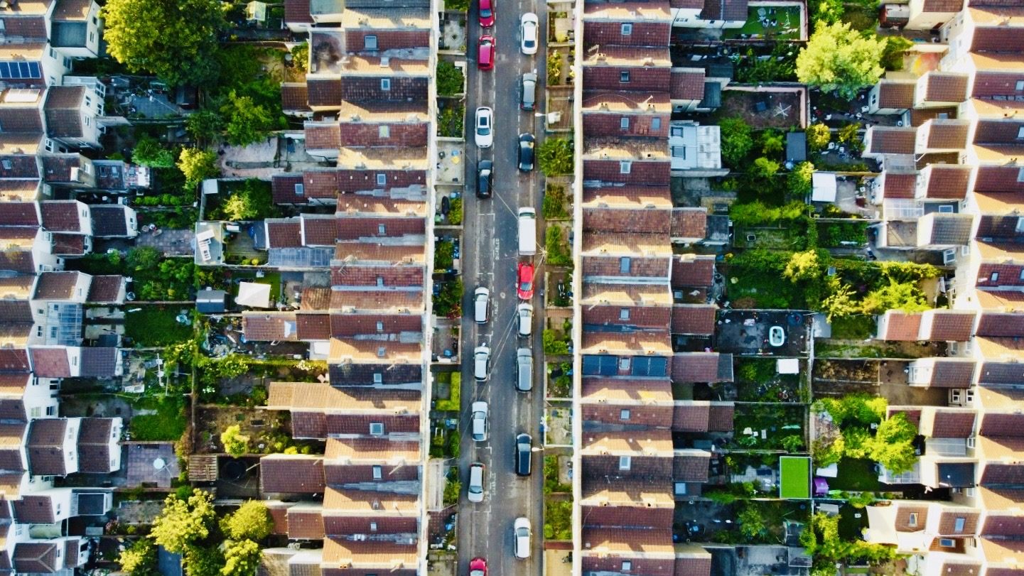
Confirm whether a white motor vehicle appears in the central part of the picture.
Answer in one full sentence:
Yes, there is a white motor vehicle in the central part of the picture.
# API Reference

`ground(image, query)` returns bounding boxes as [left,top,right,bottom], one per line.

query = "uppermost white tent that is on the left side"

[236,282,277,309]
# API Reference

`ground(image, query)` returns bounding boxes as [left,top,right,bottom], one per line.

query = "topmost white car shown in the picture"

[520,15,538,56]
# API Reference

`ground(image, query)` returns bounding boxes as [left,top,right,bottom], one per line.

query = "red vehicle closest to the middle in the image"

[517,263,535,299]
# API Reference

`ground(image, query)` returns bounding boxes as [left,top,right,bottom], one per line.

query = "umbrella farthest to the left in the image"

[155,456,173,469]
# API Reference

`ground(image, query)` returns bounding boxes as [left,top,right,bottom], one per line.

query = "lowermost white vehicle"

[513,516,532,559]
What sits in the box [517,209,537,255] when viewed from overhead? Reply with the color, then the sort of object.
white vehicle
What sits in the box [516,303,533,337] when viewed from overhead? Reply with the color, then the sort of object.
white car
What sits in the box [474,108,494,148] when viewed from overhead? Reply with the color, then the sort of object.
white car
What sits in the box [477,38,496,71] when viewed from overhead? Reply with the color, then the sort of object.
pink car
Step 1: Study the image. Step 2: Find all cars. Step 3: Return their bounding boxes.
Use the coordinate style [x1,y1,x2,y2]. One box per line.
[473,287,490,323]
[515,347,533,391]
[478,0,495,29]
[467,462,485,502]
[470,401,489,441]
[521,75,537,111]
[473,346,491,381]
[476,161,494,198]
[468,554,487,576]
[513,516,532,559]
[477,38,496,71]
[514,432,531,476]
[474,108,494,148]
[520,15,538,56]
[517,263,535,299]
[516,303,533,337]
